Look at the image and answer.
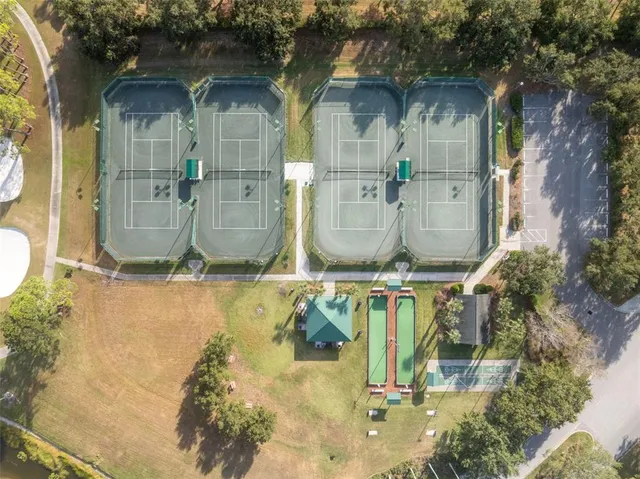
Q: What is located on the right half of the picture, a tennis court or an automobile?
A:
tennis court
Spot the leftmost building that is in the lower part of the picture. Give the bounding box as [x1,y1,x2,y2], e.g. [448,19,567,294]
[307,296,352,341]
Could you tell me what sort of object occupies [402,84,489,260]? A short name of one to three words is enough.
tennis court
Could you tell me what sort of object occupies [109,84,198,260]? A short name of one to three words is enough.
tennis court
